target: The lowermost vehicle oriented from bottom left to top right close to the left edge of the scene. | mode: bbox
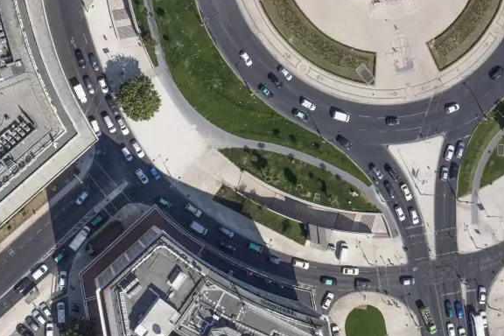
[16,279,31,294]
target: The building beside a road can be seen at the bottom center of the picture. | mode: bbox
[79,205,330,336]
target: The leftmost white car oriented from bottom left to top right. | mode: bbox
[32,264,47,279]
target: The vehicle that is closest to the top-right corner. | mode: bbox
[488,67,503,79]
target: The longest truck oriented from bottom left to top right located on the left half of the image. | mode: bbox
[69,226,90,253]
